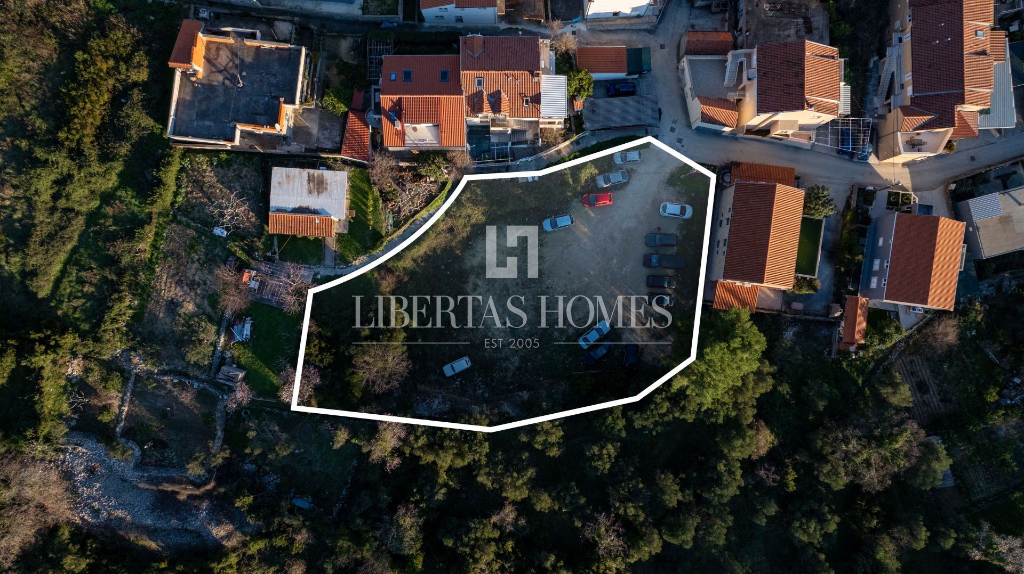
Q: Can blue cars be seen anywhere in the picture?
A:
Yes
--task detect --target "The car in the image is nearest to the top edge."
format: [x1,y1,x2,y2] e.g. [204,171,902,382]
[607,79,637,95]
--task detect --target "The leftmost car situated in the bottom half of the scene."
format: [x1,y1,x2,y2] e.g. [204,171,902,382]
[441,356,472,378]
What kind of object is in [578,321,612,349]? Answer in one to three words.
car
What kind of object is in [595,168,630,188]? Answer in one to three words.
car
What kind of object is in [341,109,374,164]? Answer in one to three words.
shed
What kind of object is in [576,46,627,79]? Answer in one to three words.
building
